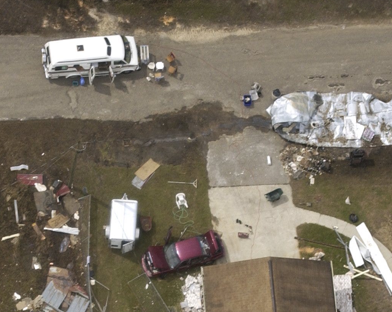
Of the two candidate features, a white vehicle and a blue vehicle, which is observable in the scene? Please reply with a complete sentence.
Looking from above, you can make out a white vehicle.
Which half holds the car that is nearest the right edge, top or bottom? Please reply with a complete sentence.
It is in the bottom half that the car that is nearest the right edge appears.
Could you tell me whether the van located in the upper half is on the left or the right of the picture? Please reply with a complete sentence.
The van located in the upper half is on the left side of the image.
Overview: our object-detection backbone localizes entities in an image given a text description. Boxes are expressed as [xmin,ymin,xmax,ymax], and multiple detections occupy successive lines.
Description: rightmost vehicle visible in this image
[138,228,226,282]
